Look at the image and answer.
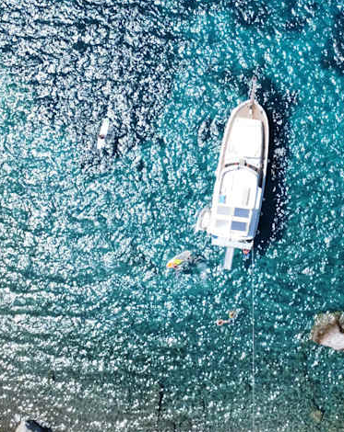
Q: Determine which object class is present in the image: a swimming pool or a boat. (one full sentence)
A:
The one in the frame is a boat.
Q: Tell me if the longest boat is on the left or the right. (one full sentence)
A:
The longest boat is on the right side of the image.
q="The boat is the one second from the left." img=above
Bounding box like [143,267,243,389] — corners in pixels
[194,205,211,238]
